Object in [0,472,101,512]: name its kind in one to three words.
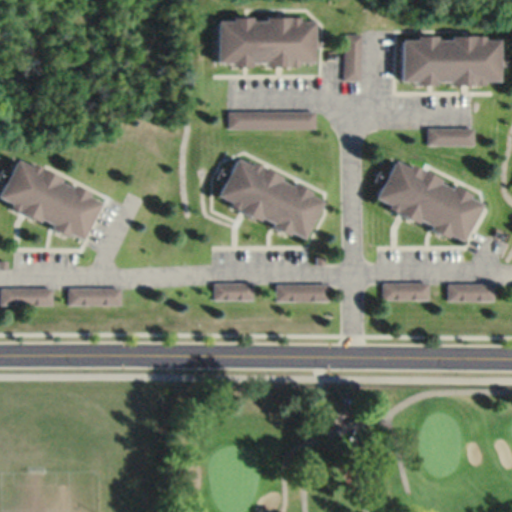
sports field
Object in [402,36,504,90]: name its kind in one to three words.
building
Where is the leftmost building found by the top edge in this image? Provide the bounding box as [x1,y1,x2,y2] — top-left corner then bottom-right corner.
[218,16,318,71]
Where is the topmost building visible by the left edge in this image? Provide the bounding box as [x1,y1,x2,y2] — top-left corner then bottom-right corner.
[1,160,104,241]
